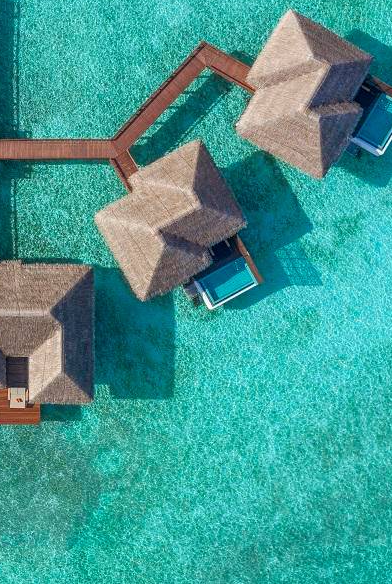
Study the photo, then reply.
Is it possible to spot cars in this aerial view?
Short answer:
No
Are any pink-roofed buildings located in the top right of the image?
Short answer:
No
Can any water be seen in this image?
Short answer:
Yes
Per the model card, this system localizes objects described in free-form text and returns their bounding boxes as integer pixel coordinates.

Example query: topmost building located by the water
[237,9,373,178]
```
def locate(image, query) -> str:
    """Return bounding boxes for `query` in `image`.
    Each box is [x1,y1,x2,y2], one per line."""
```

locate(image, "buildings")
[94,140,247,301]
[237,9,373,178]
[0,262,96,405]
